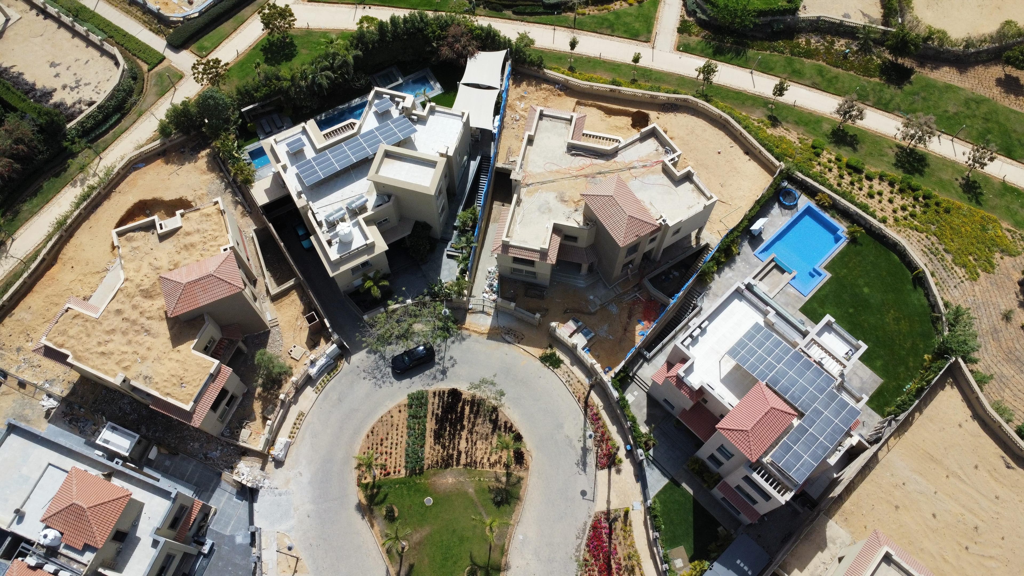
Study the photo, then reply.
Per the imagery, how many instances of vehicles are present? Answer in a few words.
2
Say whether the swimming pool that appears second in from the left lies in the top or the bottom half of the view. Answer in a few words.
top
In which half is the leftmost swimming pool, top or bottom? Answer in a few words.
top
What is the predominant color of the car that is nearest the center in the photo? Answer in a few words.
black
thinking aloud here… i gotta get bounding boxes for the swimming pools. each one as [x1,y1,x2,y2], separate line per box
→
[382,71,441,99]
[757,203,847,296]
[243,143,276,174]
[315,95,372,135]
[370,69,404,88]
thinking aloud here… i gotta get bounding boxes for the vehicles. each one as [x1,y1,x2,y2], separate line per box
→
[290,219,317,256]
[389,341,439,377]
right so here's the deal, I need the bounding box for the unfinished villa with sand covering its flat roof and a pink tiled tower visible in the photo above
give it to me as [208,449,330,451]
[27,197,265,434]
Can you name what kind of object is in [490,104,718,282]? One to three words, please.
house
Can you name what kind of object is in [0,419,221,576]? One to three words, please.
house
